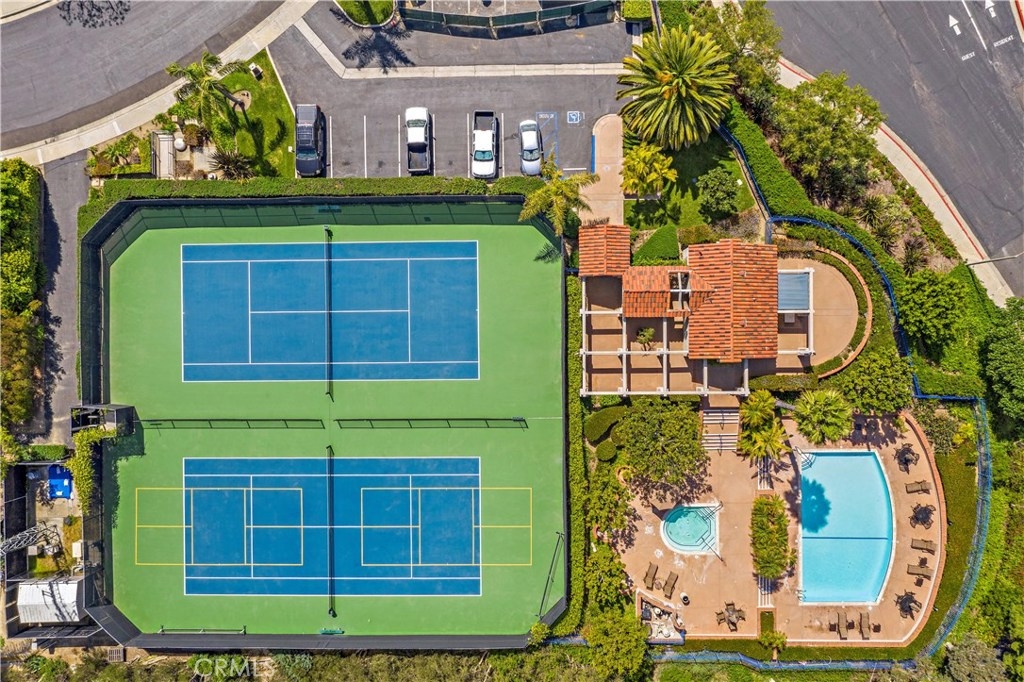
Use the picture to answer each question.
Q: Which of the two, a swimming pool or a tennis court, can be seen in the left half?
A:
tennis court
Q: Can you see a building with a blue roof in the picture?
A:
No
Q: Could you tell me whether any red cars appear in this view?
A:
No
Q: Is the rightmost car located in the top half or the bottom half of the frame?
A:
top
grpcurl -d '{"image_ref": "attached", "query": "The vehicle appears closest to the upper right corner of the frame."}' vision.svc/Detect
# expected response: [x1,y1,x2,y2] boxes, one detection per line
[518,120,545,177]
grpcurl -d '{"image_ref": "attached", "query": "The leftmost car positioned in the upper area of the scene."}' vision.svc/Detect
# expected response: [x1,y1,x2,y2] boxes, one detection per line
[292,105,324,178]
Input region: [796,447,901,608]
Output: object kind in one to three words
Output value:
swimming pool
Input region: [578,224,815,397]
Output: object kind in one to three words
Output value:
building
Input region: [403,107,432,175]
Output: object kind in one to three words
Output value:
truck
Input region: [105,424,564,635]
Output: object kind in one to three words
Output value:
tennis court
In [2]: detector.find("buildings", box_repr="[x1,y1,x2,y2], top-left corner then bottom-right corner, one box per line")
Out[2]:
[578,224,815,397]
[14,576,86,622]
